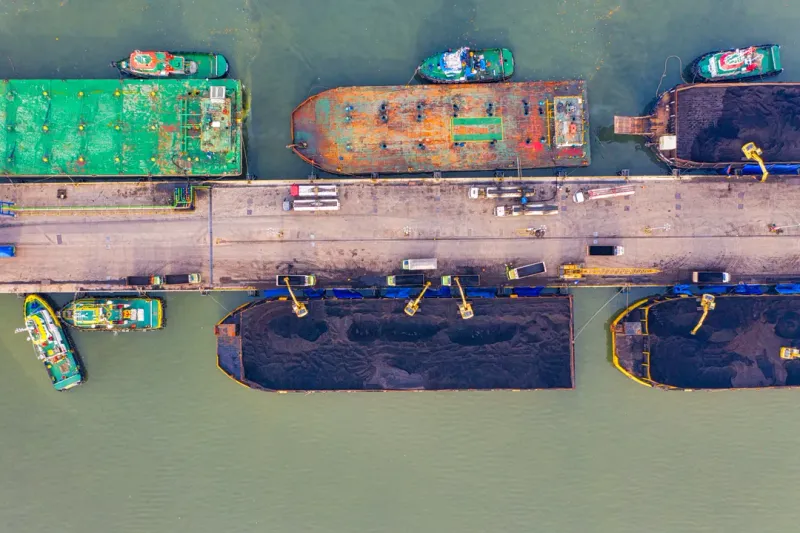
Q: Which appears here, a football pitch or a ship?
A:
ship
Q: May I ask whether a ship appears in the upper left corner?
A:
Yes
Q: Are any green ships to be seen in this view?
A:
Yes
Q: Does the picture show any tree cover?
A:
No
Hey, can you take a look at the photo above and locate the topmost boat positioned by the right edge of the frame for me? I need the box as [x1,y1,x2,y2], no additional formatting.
[683,41,786,83]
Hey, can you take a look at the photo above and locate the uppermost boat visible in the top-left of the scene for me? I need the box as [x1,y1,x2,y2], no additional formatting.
[109,50,232,79]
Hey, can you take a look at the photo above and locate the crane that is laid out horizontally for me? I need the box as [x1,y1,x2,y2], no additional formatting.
[556,263,662,280]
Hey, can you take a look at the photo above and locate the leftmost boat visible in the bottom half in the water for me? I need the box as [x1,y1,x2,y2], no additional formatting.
[12,292,87,390]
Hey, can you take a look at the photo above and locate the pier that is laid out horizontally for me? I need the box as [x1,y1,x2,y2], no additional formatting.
[0,173,800,297]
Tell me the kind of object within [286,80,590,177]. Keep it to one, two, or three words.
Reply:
ship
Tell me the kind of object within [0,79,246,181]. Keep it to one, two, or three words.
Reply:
ship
